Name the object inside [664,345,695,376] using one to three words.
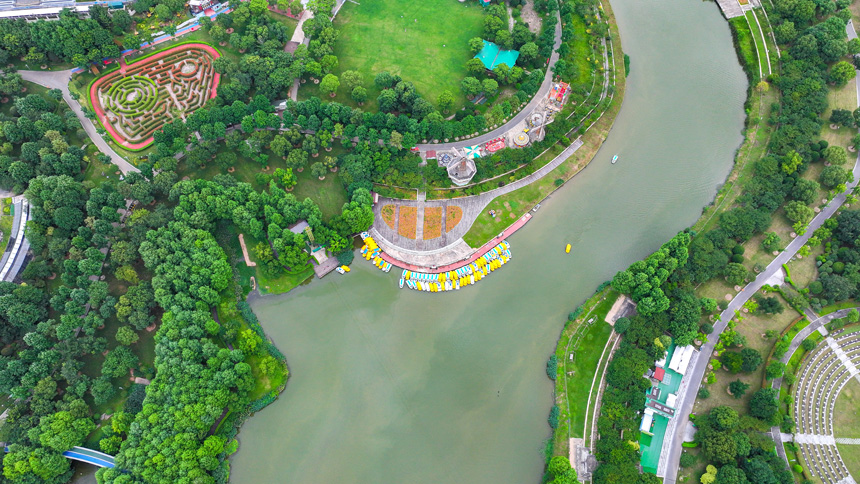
building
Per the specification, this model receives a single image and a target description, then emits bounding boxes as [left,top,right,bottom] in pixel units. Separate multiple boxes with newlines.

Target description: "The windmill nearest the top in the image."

[530,108,557,143]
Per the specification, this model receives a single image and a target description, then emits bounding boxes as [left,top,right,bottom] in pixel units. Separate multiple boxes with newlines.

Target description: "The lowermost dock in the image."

[313,249,338,279]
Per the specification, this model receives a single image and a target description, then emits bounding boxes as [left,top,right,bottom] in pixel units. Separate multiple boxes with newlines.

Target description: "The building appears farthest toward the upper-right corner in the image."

[546,79,571,107]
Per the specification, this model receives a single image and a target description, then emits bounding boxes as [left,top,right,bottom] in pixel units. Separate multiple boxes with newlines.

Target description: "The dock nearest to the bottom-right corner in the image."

[379,213,532,274]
